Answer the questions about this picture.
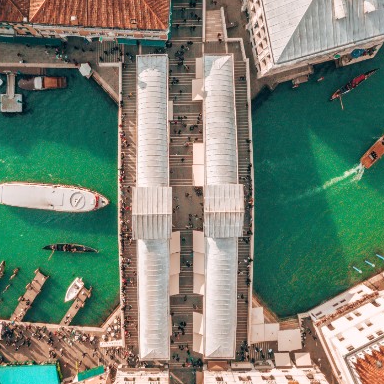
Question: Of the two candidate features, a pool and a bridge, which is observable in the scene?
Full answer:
Of the two, only a bridge appears.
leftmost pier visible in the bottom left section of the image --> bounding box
[6,268,49,322]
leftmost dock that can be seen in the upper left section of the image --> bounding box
[0,68,24,113]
